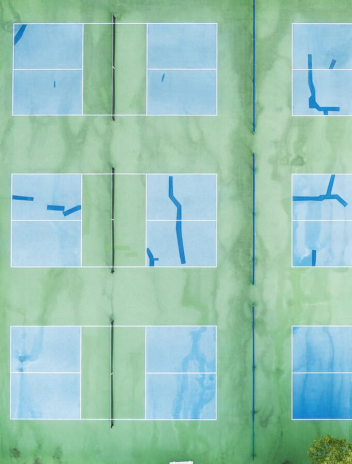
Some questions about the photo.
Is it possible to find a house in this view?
No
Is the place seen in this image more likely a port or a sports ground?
sports ground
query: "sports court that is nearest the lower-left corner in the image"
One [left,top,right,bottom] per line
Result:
[10,326,216,421]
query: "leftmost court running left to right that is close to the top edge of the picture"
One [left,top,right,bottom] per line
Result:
[12,23,217,116]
